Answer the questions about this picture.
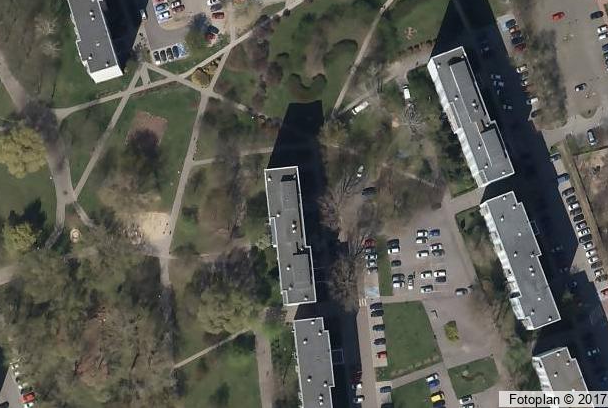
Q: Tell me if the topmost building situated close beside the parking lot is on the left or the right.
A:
right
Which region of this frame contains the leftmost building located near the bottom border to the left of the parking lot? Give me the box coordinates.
[287,317,334,408]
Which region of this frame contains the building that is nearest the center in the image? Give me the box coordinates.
[262,166,316,306]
